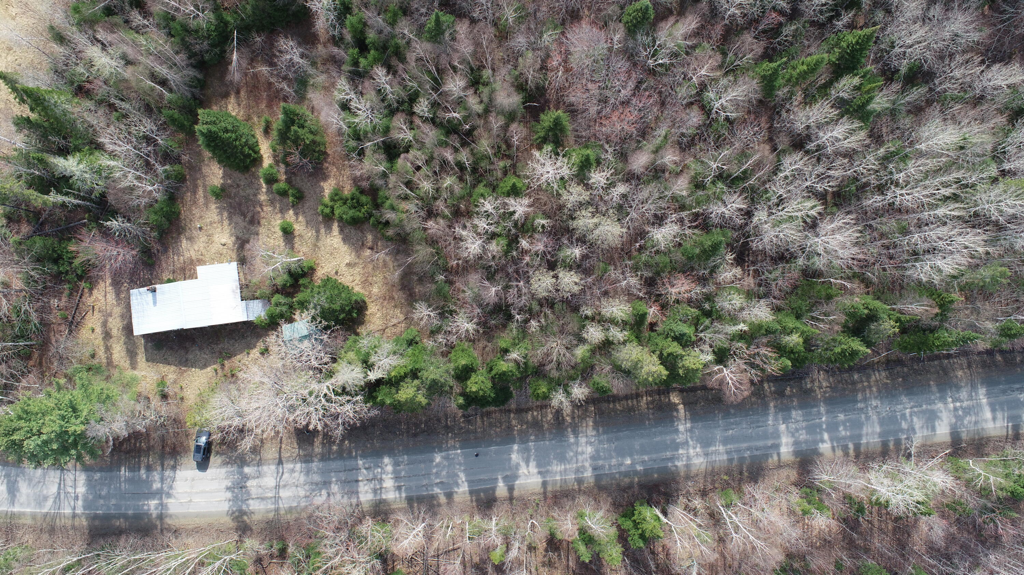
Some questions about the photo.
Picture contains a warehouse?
No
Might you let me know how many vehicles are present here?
one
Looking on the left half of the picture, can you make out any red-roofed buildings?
No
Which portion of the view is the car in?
bottom left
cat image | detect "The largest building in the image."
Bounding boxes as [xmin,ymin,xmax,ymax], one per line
[130,262,270,335]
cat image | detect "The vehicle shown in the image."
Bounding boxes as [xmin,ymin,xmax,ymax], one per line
[193,428,214,463]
